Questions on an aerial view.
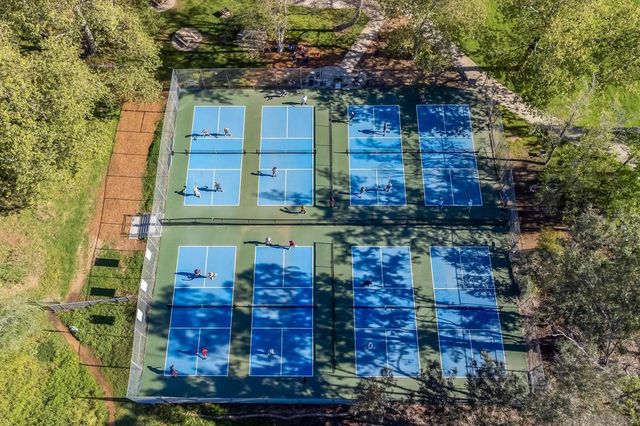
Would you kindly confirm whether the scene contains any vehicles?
No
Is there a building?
No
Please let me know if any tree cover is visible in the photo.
Yes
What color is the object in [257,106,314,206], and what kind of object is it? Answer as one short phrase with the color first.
blue sports court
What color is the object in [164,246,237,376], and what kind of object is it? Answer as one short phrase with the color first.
blue sports court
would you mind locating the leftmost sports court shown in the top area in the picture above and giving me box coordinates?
[183,106,246,206]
